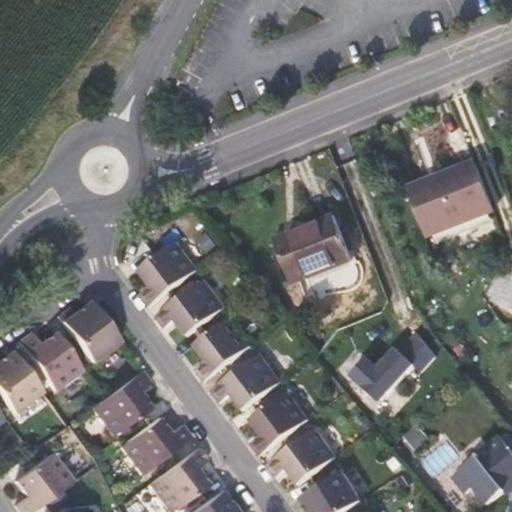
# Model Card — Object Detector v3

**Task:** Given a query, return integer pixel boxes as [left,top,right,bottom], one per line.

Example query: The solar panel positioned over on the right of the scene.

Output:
[299,250,330,275]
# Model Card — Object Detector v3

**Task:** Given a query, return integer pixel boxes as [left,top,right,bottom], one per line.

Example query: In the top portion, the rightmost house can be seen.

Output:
[404,160,494,241]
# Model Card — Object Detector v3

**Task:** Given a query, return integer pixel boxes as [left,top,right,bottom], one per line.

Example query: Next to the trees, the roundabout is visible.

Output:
[63,131,145,209]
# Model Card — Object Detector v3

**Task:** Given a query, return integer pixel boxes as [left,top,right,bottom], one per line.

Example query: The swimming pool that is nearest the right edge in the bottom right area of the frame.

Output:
[419,436,463,482]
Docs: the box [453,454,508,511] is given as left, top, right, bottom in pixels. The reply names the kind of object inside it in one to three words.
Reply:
building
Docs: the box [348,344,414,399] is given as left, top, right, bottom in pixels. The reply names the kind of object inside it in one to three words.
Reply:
house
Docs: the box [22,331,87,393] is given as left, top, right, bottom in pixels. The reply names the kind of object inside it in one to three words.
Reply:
house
